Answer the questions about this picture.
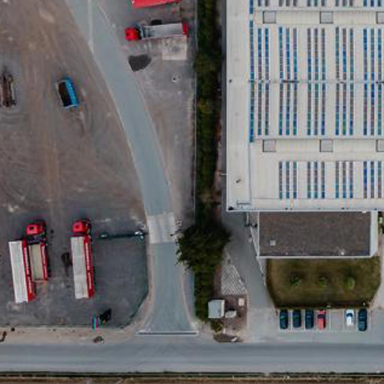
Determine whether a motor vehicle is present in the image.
Yes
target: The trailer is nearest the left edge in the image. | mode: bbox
[9,237,39,303]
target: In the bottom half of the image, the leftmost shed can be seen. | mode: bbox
[208,297,227,318]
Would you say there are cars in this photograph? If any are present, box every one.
[291,308,302,327]
[358,308,368,331]
[317,309,327,329]
[278,308,290,328]
[347,308,354,327]
[303,308,315,328]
